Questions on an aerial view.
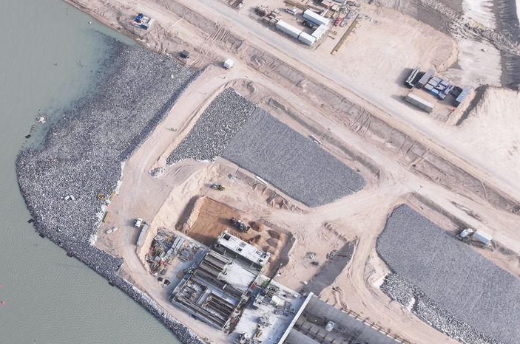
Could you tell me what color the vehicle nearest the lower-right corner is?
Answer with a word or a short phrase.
white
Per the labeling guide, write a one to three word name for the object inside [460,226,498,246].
vehicle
